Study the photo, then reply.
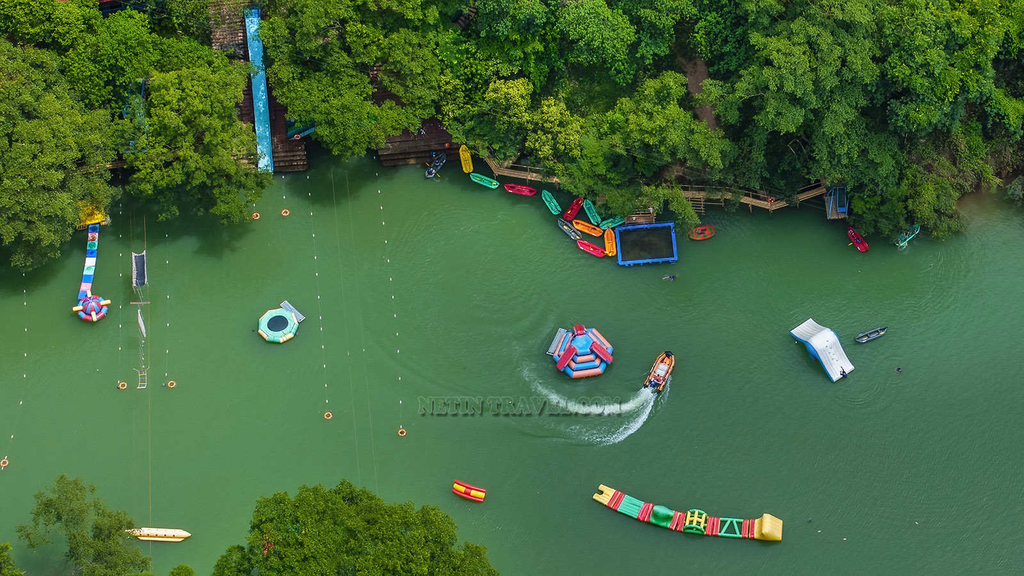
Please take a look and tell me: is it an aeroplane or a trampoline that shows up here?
trampoline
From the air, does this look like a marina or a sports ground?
marina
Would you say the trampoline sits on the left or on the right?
left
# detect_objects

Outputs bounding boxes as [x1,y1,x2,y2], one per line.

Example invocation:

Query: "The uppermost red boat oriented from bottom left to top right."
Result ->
[565,196,584,220]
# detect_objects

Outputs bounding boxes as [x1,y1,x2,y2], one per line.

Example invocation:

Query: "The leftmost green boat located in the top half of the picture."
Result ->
[470,172,499,189]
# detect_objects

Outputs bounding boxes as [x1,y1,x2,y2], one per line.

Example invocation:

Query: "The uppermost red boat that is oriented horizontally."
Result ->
[504,183,537,195]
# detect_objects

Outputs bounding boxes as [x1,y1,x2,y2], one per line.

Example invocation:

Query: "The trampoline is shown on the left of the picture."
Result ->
[258,300,304,344]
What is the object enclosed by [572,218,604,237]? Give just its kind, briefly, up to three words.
boat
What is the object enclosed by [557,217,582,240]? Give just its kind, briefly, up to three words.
boat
